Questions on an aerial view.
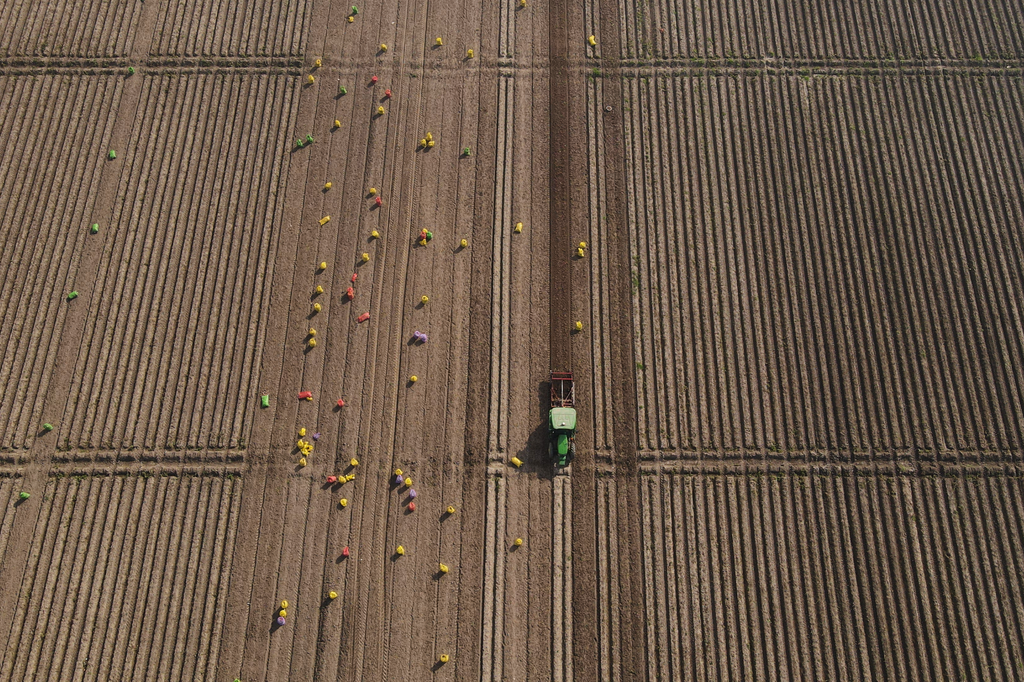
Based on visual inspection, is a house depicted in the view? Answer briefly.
No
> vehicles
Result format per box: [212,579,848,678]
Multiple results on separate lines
[549,407,580,466]
[551,369,575,408]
